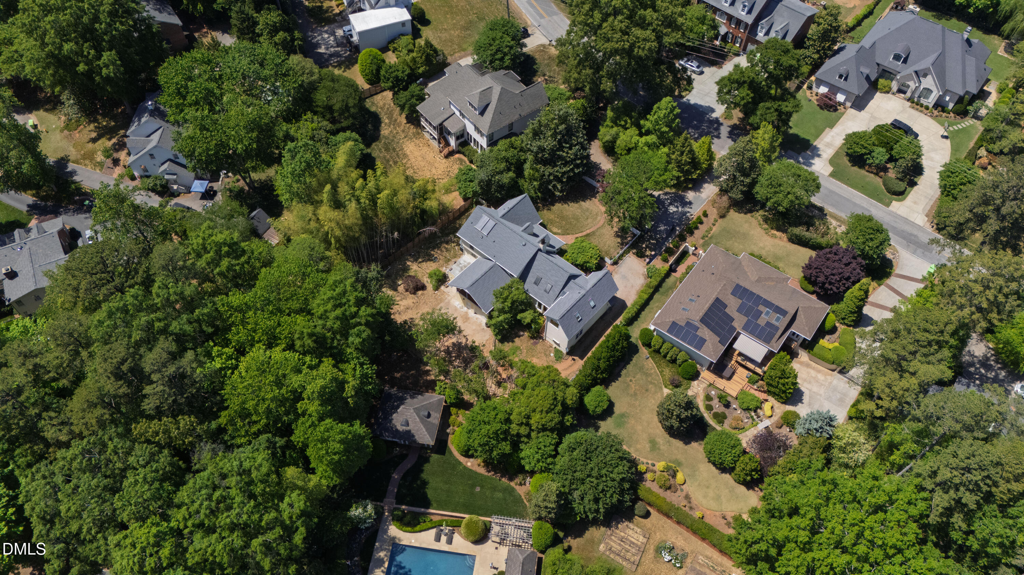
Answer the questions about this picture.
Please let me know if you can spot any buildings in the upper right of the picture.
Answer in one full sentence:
Yes, you'll find a building in the upper right of the picture.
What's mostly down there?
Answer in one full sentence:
Most of the picture is covered by trees.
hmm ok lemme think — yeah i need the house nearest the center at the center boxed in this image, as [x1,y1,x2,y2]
[446,194,619,352]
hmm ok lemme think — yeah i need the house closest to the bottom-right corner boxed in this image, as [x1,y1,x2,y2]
[649,243,831,370]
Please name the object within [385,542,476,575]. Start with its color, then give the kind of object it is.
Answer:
blue swimming pool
